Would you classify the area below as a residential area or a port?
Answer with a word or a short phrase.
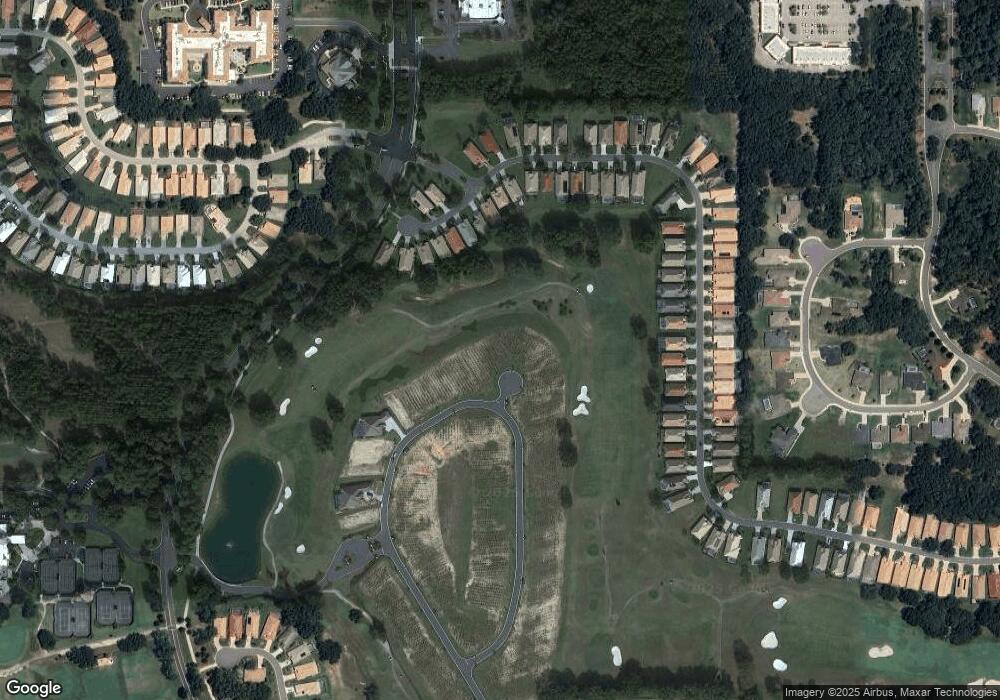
residential area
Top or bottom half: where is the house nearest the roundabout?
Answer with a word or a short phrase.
bottom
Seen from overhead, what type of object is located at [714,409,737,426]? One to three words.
house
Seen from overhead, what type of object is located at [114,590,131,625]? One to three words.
tennis court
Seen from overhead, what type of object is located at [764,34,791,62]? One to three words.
building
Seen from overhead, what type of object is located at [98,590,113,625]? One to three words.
tennis court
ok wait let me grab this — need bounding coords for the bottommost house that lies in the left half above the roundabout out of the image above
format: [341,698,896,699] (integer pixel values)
[338,479,377,510]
